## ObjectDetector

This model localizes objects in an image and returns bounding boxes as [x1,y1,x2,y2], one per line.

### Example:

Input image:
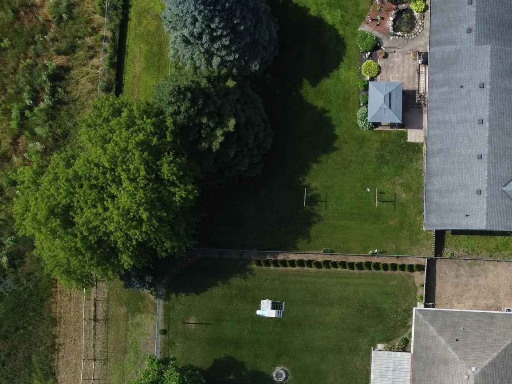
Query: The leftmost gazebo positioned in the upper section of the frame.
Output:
[368,81,404,129]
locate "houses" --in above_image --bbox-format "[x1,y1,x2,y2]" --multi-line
[410,307,512,384]
[423,0,512,236]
